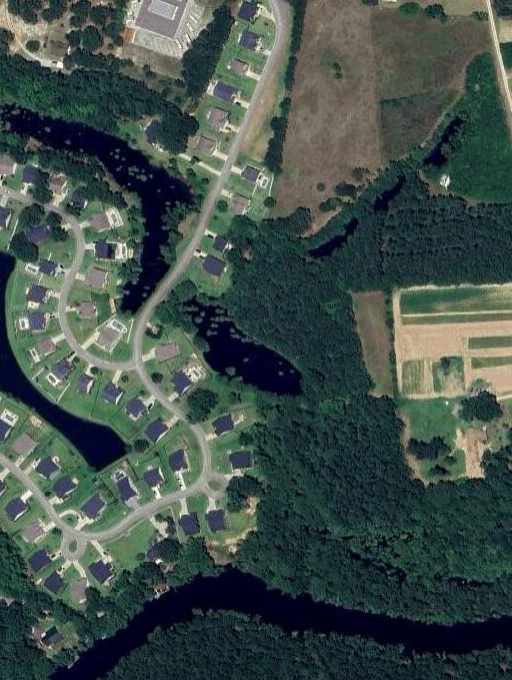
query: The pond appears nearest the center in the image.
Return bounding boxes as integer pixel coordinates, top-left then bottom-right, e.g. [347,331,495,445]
[182,300,302,398]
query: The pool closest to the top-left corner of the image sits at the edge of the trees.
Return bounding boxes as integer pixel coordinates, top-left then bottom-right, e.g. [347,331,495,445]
[107,207,121,225]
